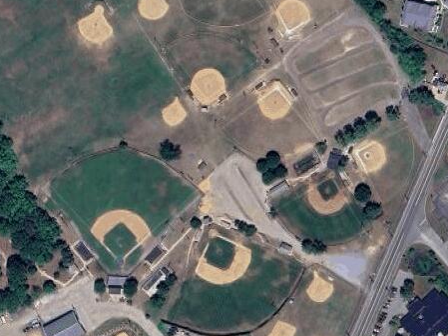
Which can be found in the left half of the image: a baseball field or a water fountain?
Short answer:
baseball field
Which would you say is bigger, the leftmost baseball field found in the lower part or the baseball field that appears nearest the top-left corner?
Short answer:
the leftmost baseball field found in the lower part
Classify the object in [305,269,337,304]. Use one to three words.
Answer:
baseball field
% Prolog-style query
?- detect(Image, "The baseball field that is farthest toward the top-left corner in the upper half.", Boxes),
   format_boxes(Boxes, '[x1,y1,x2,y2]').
[76,1,114,44]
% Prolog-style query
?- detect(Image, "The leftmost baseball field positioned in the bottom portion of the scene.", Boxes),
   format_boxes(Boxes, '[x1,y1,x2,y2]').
[52,149,198,273]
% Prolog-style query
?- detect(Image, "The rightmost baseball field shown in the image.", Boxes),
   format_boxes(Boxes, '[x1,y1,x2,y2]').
[350,139,388,176]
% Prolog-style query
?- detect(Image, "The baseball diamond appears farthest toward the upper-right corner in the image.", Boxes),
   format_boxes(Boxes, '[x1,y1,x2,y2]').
[275,0,312,37]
